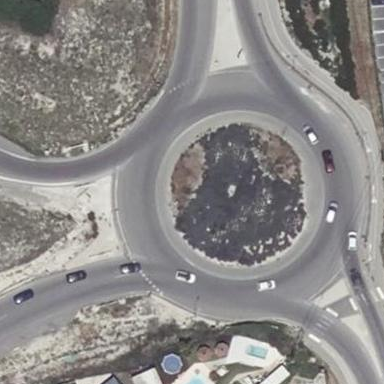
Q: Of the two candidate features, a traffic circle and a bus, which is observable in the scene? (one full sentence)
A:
Of the two, only a traffic circle appears.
